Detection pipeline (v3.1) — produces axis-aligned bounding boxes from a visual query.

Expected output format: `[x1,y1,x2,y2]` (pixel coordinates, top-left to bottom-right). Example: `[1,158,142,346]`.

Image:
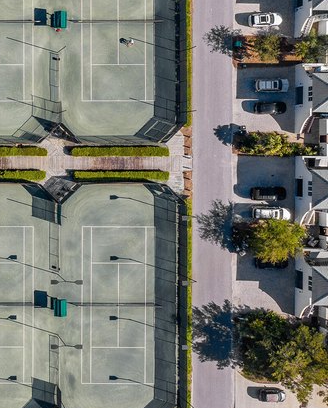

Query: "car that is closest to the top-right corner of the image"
[247,12,280,27]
